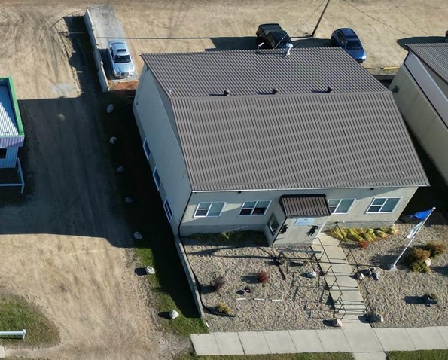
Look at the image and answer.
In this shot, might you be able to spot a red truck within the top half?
No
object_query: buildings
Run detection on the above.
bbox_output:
[389,42,448,179]
[0,79,26,168]
[126,48,428,249]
